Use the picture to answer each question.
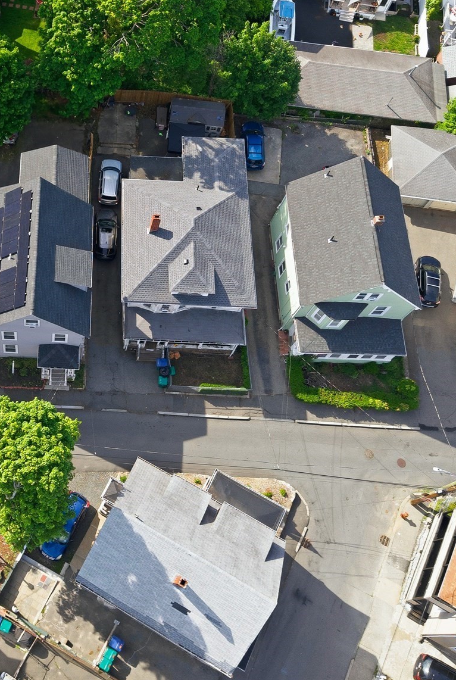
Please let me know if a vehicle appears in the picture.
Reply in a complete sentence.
Yes, the photo shows a vehicle.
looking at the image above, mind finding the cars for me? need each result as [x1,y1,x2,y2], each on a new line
[43,489,93,561]
[410,650,456,680]
[96,157,124,208]
[242,121,268,170]
[94,208,120,262]
[416,254,448,310]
